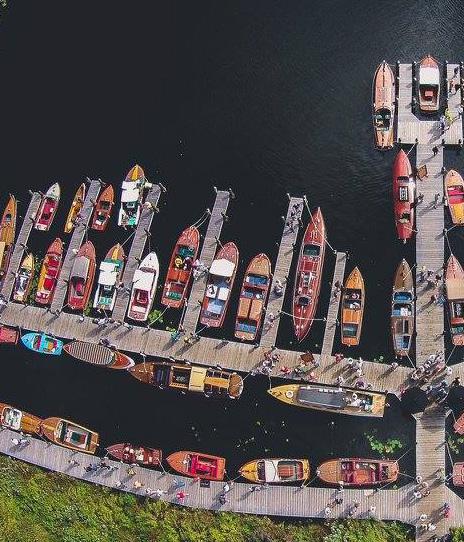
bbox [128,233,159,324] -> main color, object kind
white boat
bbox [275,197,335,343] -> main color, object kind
red boat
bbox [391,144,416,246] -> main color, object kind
red boat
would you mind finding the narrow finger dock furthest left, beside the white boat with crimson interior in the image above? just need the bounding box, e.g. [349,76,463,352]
[0,191,46,302]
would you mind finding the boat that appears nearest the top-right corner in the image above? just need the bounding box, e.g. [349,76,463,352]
[414,53,447,114]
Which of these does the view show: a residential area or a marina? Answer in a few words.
marina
